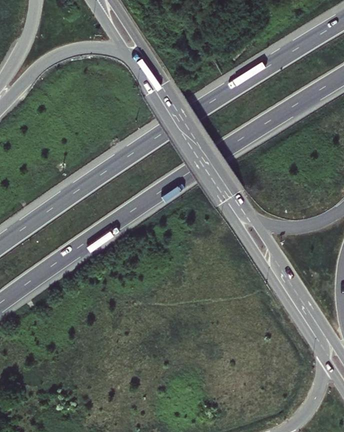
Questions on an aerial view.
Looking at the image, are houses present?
No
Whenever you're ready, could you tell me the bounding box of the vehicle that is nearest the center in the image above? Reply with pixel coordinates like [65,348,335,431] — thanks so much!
[160,183,186,202]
